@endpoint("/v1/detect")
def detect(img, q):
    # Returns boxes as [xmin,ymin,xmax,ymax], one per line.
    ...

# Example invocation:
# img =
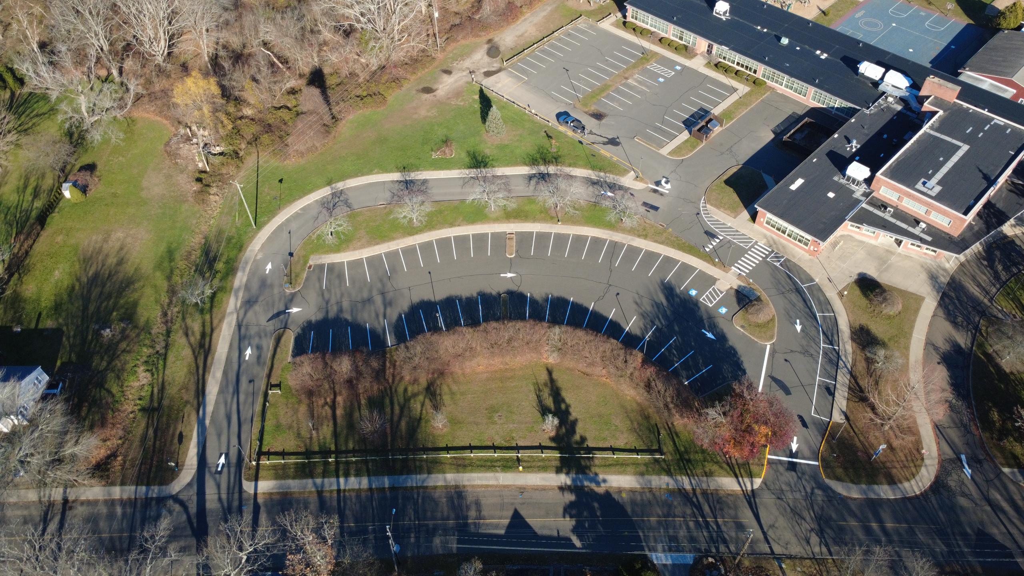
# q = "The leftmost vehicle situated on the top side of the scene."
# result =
[555,115,588,134]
